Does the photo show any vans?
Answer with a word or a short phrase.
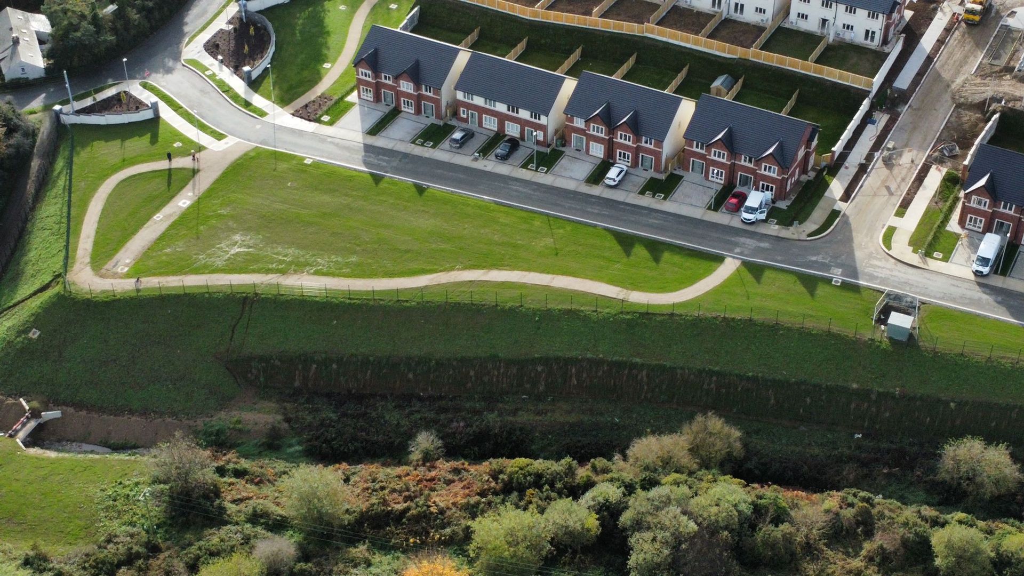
Yes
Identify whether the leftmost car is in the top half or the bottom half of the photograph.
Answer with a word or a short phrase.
top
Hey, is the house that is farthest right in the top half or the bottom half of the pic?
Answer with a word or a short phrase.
top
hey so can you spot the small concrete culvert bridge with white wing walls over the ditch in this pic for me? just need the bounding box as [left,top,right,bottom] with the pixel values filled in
[0,399,61,451]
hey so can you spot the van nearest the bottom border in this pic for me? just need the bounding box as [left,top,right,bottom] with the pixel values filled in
[977,227,1008,270]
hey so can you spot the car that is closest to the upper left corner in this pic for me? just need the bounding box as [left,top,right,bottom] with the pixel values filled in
[449,125,475,148]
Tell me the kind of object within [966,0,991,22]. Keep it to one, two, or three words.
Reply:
truck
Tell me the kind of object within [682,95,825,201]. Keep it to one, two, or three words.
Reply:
house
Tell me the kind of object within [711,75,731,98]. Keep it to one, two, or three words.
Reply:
shed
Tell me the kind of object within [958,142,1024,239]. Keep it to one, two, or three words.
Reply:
house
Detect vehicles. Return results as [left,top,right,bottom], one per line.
[745,185,777,219]
[726,189,750,211]
[495,138,520,159]
[449,125,475,148]
[606,163,631,185]
[977,227,1008,270]
[966,0,991,22]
